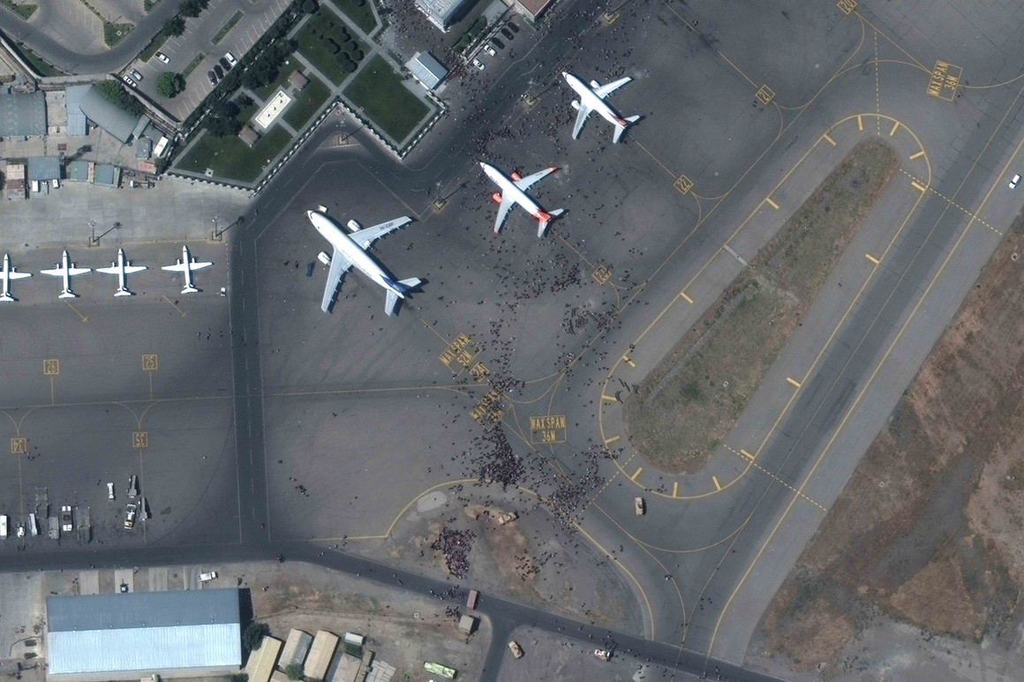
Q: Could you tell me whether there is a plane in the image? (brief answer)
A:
Yes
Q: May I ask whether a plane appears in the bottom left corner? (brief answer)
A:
No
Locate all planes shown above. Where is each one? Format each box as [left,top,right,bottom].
[480,162,558,230]
[96,248,146,294]
[307,210,415,309]
[565,72,638,138]
[0,254,32,299]
[41,250,91,295]
[162,245,212,290]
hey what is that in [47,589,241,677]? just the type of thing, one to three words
hangar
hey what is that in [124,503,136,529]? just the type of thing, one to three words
vehicle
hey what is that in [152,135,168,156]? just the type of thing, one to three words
vehicle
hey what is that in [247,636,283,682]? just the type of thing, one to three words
shed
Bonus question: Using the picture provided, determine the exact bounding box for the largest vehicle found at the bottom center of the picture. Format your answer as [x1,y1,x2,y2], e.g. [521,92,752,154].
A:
[425,659,455,677]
